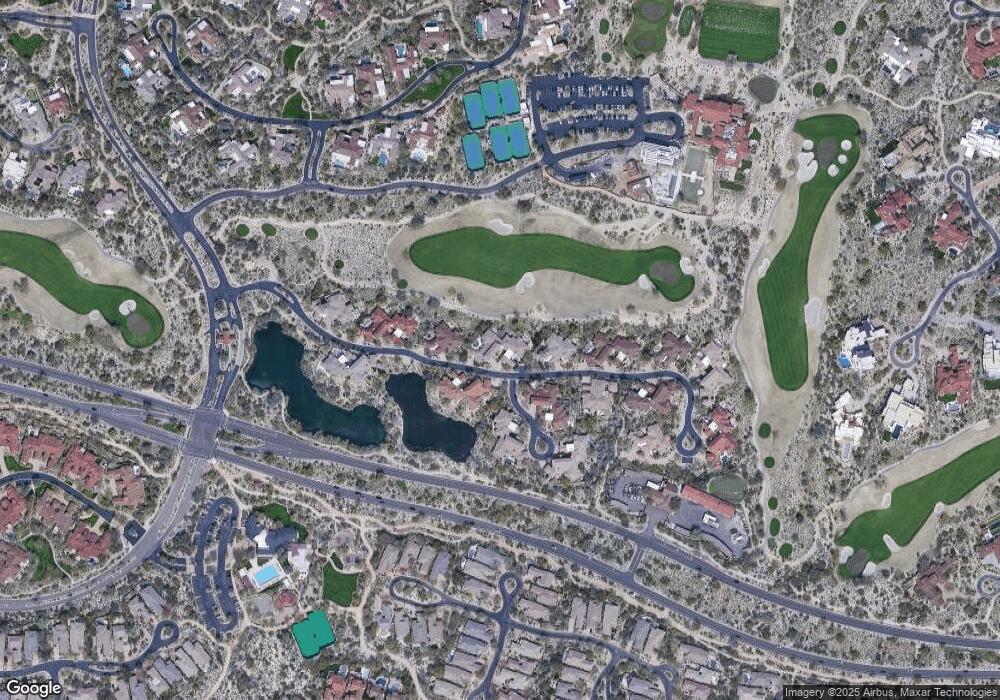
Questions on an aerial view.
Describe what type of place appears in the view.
residential area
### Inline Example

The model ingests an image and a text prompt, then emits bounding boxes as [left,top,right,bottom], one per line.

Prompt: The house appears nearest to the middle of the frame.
[476,327,532,371]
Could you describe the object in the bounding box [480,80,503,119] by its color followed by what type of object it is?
blue tennis court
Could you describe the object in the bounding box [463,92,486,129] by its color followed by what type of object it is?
blue tennis court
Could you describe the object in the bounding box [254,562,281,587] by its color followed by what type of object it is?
blue swimming pool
